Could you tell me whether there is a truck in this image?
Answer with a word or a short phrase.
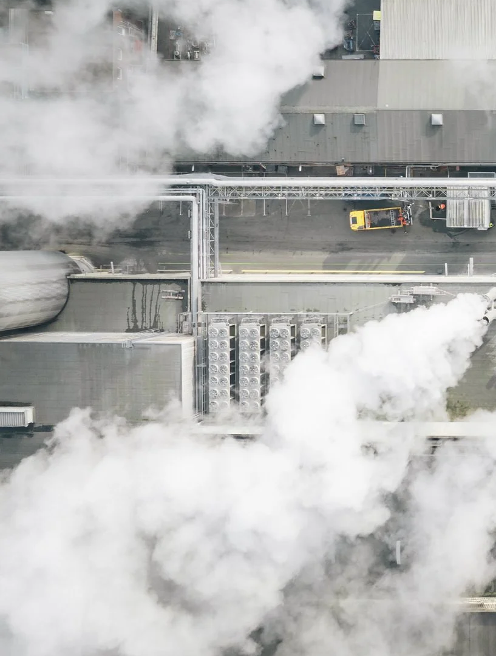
Yes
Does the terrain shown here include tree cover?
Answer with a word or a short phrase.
No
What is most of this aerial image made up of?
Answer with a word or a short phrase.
buildings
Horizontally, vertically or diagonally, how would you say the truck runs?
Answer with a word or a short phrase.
horizontally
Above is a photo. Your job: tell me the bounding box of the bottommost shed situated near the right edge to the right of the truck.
[447,191,491,229]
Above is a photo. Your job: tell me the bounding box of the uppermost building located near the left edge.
[0,10,172,168]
